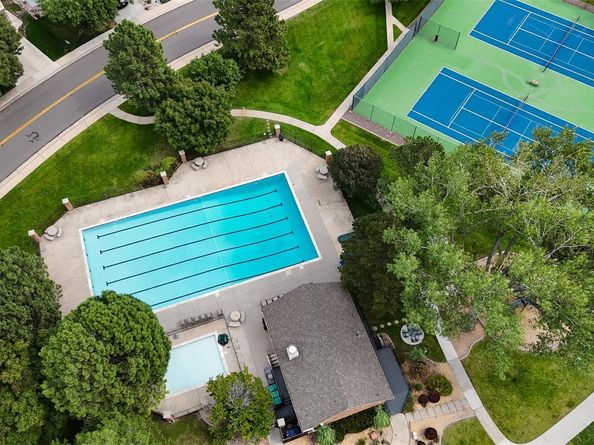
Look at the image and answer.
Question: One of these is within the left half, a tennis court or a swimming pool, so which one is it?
swimming pool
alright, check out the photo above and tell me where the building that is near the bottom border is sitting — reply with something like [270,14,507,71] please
[262,280,392,433]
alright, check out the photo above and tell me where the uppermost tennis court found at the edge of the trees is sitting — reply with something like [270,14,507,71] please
[417,0,594,108]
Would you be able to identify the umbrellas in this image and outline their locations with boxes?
[213,332,228,348]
